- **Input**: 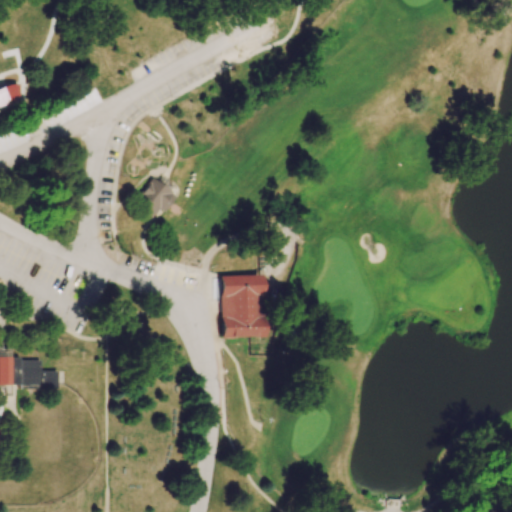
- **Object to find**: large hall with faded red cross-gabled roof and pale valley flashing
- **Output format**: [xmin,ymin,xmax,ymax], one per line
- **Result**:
[222,274,271,338]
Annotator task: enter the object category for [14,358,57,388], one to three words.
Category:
shed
